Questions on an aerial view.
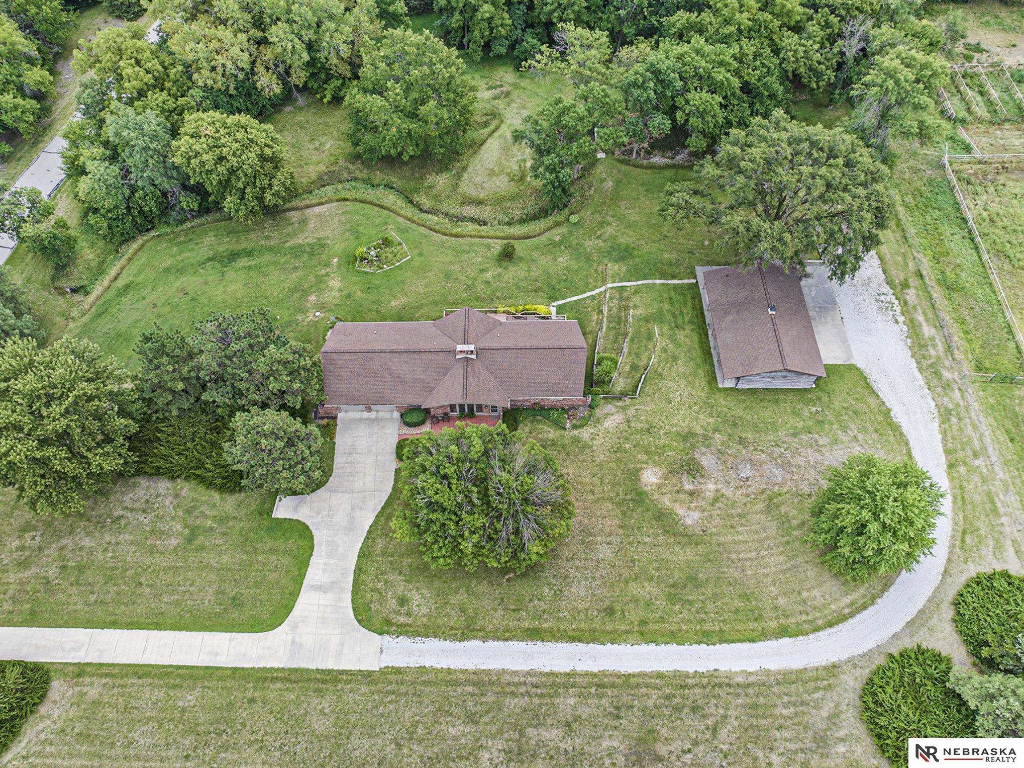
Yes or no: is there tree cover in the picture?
Yes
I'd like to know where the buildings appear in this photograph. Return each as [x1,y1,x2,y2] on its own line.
[322,306,592,417]
[704,260,831,389]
